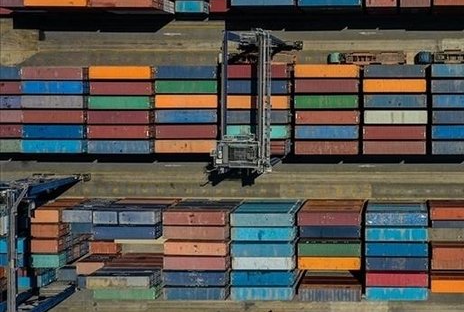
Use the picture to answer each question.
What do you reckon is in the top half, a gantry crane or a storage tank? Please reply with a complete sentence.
There is a gantry crane in the top half.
